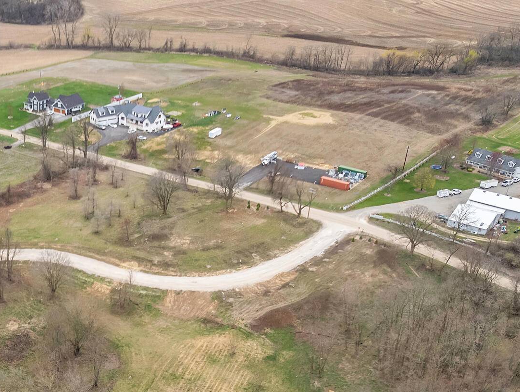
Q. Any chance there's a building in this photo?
Yes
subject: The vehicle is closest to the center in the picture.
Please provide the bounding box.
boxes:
[262,149,278,163]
